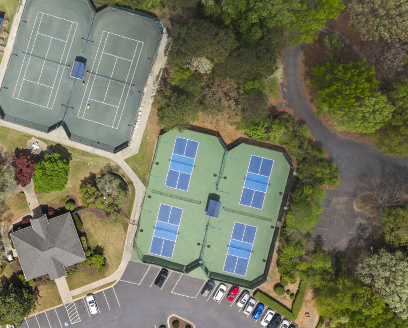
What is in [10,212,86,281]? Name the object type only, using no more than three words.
building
